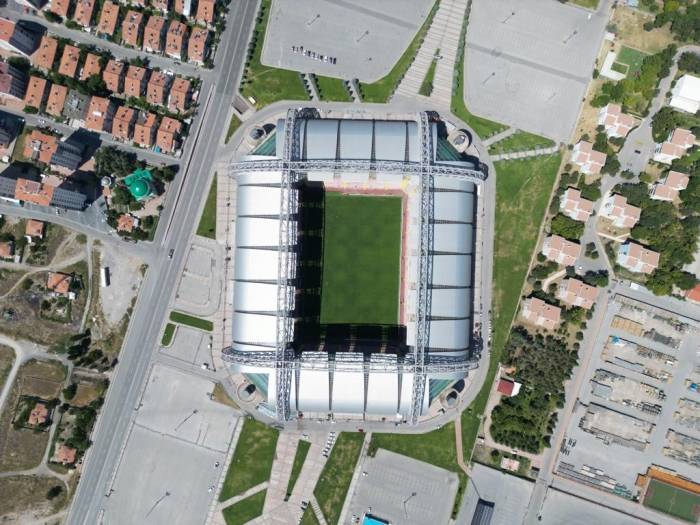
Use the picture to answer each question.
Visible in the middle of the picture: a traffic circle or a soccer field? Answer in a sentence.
It is a soccer field that can be seen in the middle of the picture.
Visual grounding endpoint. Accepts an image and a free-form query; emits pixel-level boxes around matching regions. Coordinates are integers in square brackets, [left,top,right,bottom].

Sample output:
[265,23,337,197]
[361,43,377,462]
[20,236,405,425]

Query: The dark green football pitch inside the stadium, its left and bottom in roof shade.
[293,183,411,348]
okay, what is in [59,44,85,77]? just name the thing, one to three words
house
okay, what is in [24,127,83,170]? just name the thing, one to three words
building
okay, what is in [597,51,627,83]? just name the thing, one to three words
building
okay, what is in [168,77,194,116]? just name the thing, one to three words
house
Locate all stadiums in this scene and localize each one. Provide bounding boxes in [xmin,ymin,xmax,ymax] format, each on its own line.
[223,110,485,421]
